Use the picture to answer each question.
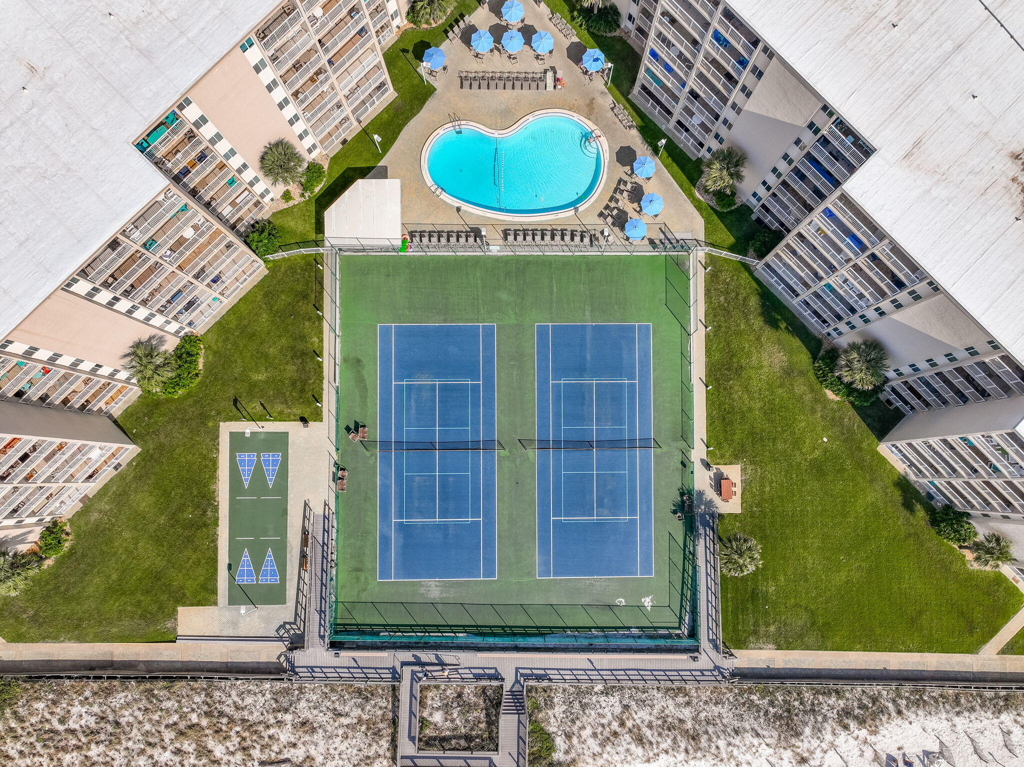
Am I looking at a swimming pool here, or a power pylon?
swimming pool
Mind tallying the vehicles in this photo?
0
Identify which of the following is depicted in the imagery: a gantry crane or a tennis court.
tennis court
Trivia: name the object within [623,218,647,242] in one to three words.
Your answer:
umbrella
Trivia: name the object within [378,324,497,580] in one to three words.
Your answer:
tennis court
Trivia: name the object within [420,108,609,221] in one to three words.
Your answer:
swimming pool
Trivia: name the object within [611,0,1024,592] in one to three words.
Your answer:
building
